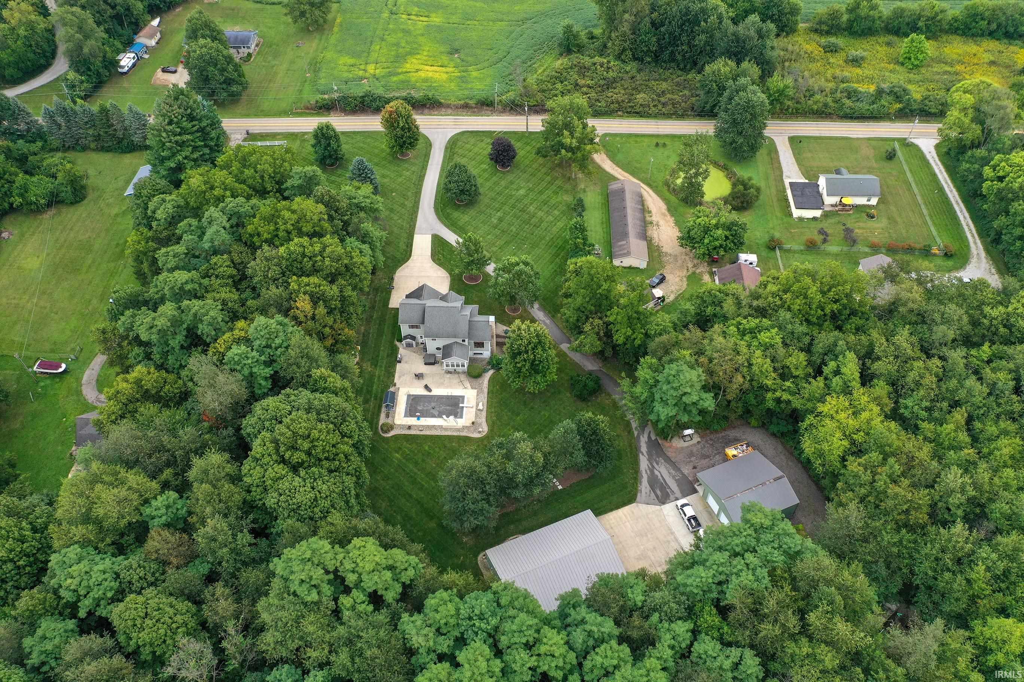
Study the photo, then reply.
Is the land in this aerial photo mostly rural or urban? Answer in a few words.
rural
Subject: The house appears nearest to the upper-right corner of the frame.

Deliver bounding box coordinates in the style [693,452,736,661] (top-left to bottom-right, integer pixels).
[812,164,881,204]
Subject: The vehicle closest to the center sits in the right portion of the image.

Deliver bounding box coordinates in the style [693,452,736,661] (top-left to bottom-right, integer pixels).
[648,270,668,286]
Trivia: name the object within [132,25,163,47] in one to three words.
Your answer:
building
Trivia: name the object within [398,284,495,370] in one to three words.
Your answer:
house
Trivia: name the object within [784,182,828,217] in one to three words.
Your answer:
building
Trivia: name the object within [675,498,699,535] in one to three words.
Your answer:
truck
